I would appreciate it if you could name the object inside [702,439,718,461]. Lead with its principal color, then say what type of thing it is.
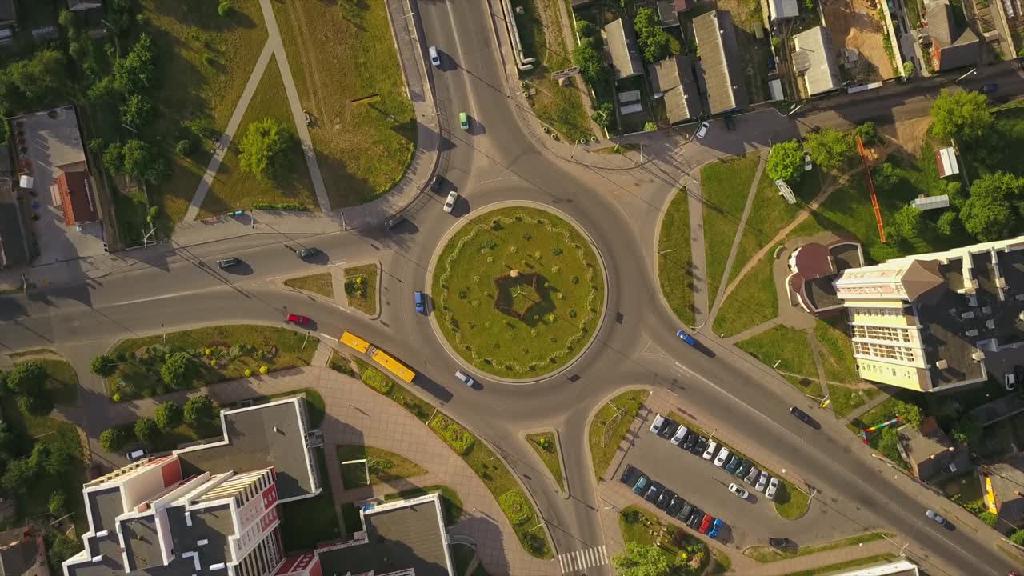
white car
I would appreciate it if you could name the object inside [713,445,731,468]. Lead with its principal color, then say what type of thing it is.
white car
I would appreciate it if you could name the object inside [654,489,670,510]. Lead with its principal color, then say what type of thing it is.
black car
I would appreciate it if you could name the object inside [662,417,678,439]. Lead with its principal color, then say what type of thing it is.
black car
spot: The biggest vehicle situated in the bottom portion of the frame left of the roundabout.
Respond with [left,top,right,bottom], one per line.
[336,333,420,385]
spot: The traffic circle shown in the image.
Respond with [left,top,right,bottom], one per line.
[425,200,607,382]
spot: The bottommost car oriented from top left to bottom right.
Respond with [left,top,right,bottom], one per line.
[923,509,946,526]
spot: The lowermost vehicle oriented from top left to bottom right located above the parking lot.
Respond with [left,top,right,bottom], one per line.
[789,407,810,423]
